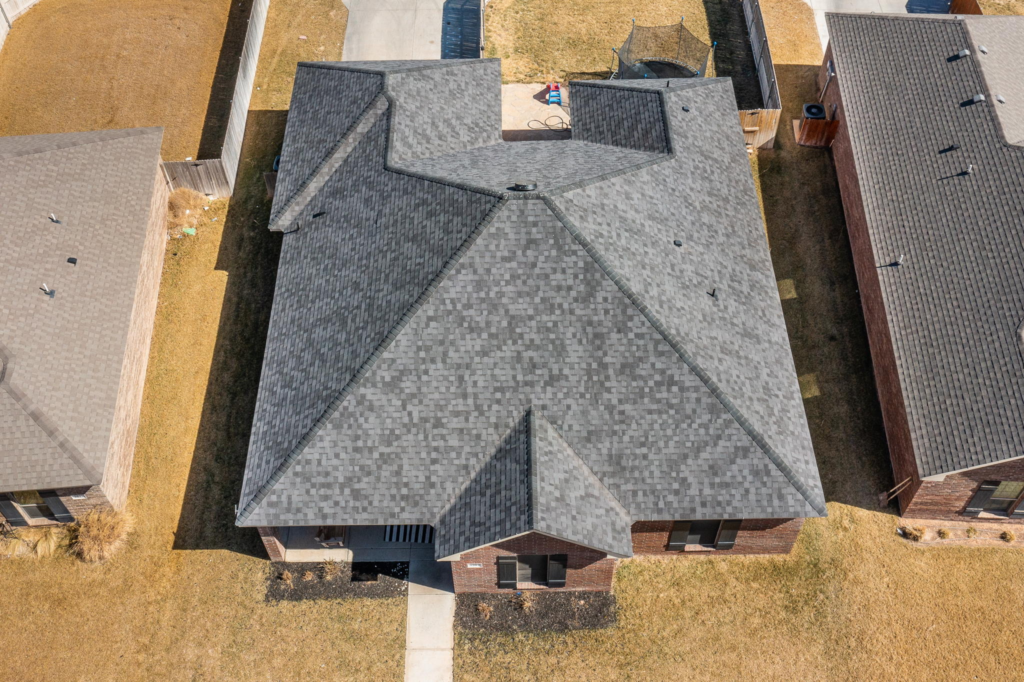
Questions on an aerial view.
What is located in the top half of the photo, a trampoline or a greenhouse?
trampoline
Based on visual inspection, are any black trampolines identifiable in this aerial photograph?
No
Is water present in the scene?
No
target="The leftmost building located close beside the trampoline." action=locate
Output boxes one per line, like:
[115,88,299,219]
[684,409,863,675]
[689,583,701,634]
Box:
[235,58,828,594]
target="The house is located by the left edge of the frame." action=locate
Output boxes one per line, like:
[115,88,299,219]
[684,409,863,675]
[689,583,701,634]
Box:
[0,126,174,536]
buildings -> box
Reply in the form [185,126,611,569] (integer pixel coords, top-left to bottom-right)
[0,126,174,536]
[821,13,1024,525]
[235,58,828,594]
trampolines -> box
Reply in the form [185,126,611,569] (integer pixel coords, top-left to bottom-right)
[609,17,716,80]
